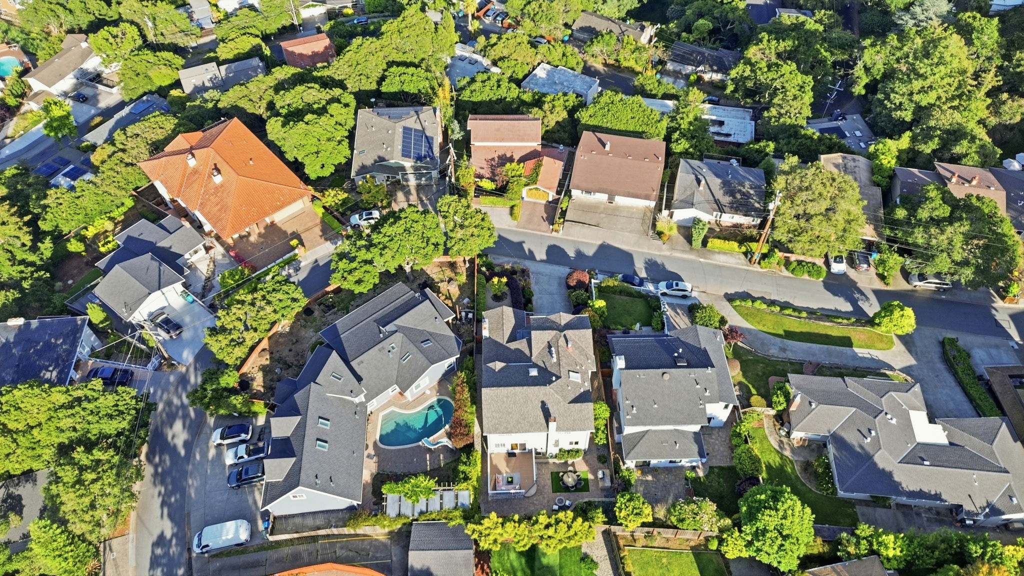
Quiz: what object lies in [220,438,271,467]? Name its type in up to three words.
truck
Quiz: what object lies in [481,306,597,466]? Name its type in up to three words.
house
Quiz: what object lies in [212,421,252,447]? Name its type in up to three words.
car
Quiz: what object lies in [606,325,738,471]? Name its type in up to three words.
house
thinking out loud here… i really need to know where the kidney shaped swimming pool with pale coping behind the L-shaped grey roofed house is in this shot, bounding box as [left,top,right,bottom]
[376,396,453,448]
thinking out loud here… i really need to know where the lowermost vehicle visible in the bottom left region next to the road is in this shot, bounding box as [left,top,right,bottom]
[190,511,255,554]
